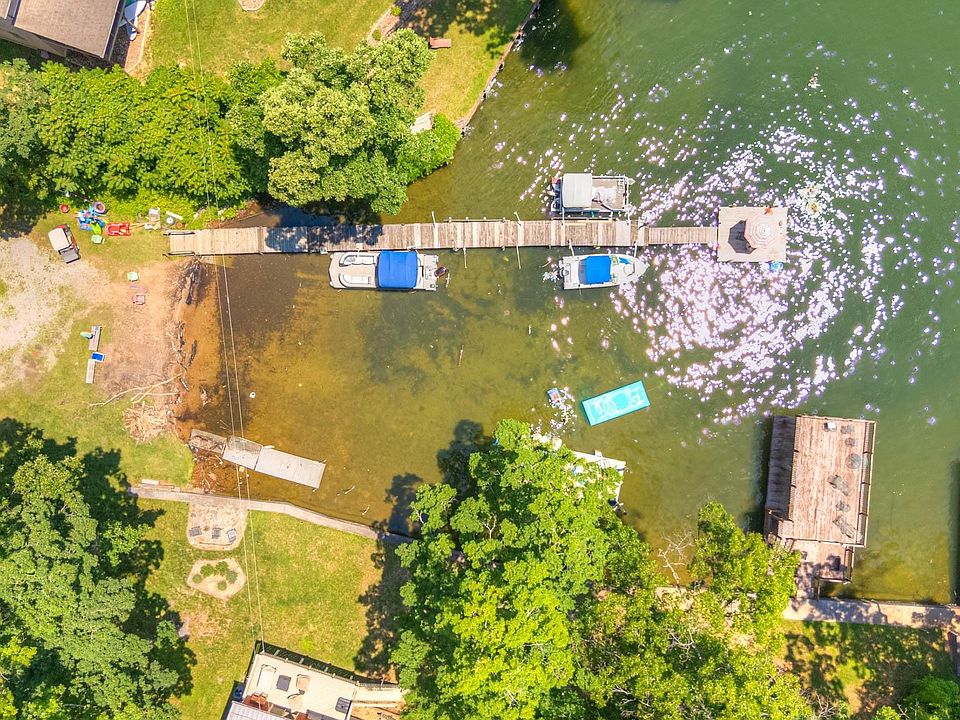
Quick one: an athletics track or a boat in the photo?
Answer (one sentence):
Visible in the photo is a boat.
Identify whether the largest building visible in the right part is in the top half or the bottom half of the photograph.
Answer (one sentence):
It is in the bottom half that the largest building visible in the right part appears.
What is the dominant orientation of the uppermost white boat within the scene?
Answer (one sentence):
The uppermost white boat has been laid out horizontally relative to the frame.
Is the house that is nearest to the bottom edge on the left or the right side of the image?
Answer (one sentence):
The house that is nearest to the bottom edge is on the left side of the image.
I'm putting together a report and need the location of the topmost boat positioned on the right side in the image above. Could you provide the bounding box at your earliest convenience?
[546,173,640,217]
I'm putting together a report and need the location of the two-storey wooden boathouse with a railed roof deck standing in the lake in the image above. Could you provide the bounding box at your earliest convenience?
[751,412,878,566]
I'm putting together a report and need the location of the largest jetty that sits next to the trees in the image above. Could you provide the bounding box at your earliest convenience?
[161,205,787,266]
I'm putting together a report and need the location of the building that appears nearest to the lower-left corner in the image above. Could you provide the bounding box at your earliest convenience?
[225,646,411,720]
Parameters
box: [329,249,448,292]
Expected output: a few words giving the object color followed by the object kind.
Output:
white boat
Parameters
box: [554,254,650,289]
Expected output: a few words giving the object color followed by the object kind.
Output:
white boat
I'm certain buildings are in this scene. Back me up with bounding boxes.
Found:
[225,646,411,720]
[751,412,878,566]
[0,0,123,86]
